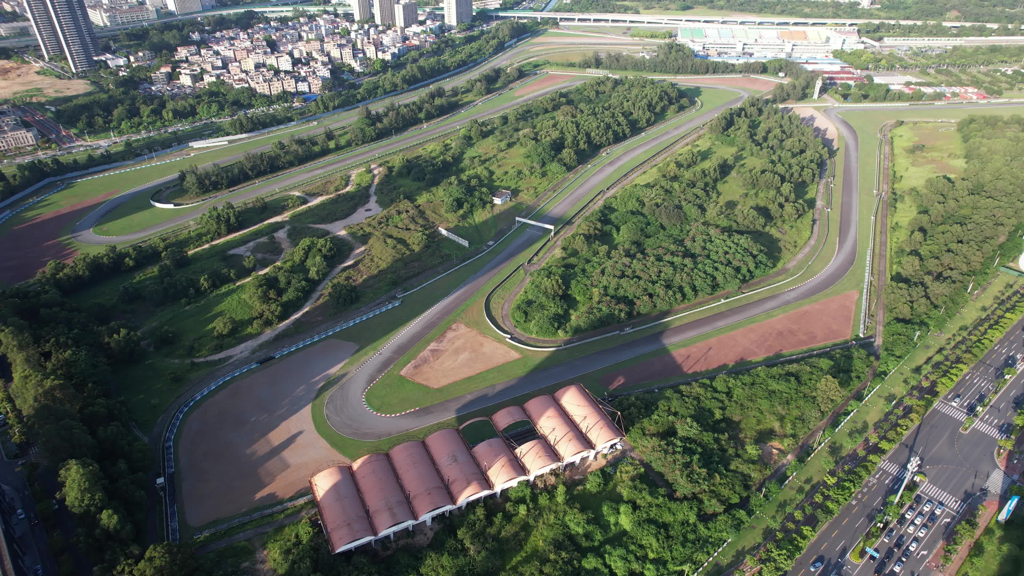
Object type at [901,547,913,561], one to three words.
vehicle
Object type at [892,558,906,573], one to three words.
car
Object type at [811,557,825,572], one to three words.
car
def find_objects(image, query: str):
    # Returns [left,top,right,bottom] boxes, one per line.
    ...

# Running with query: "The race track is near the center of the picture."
[70,42,1024,439]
